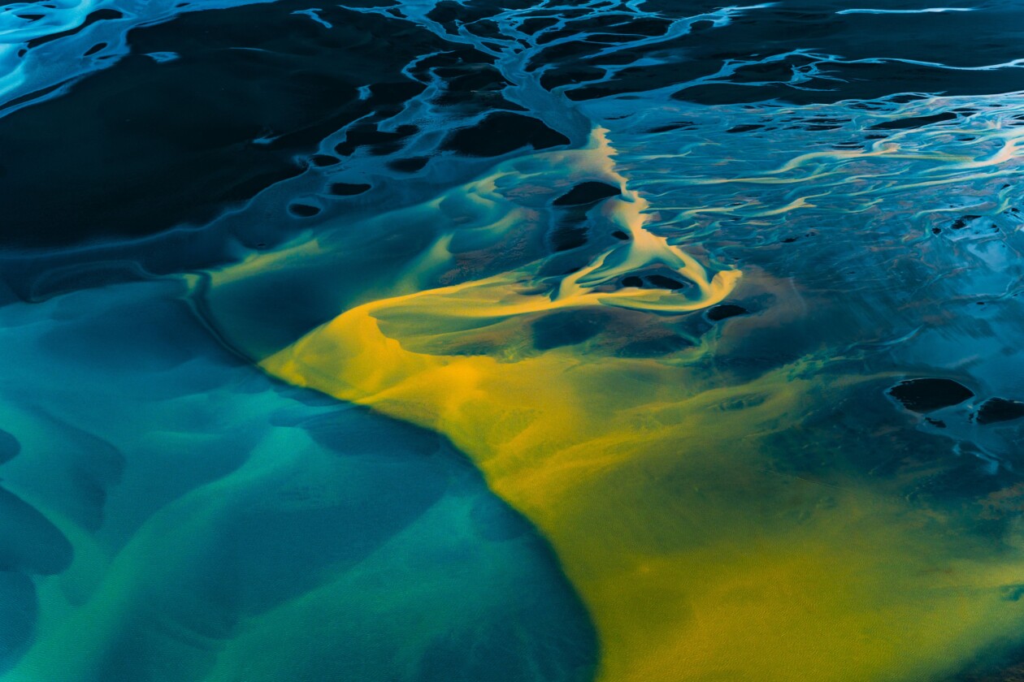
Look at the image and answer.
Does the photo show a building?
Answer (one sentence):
No, I can see no building in this picture.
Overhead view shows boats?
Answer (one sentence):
No, there's no boat here.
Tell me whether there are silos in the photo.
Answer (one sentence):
No, I can see no silo in this picture.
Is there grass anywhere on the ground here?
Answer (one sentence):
No, there's no grass in this view.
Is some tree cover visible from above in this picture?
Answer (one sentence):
No, there is no tree cover in the image.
